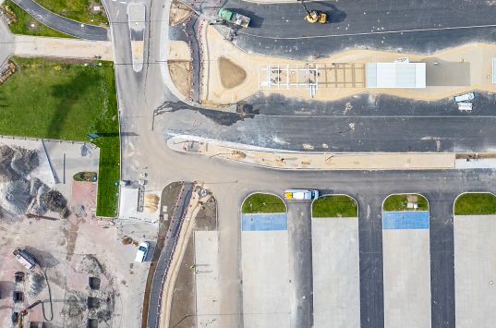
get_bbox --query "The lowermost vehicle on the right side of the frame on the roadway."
[285,188,318,202]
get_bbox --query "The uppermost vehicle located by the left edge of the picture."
[9,249,34,271]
